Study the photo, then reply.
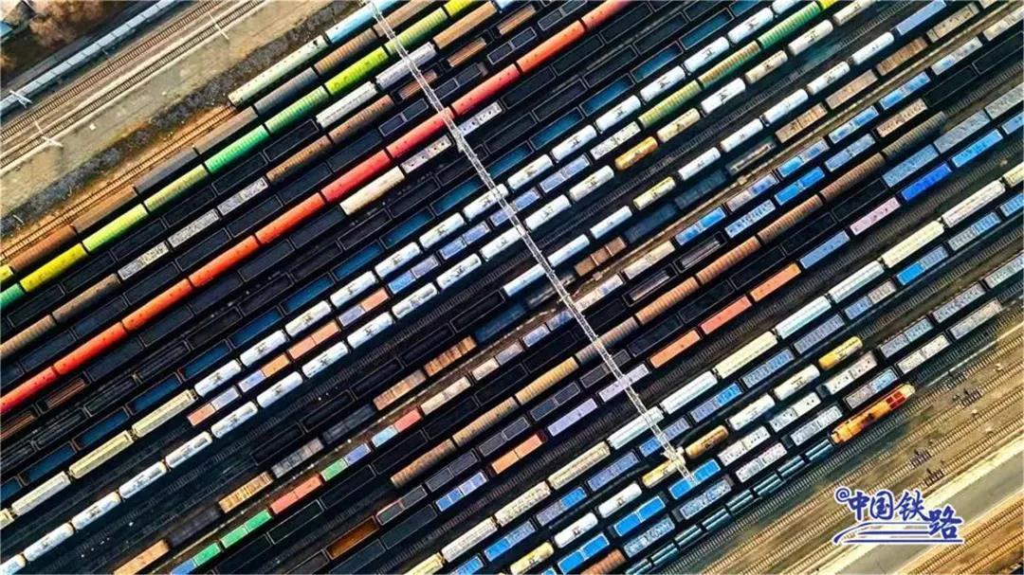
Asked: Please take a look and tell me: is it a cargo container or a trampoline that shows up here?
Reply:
cargo container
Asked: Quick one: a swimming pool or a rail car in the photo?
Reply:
rail car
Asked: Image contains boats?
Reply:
Yes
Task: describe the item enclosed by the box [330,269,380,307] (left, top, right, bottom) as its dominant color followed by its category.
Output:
white rail car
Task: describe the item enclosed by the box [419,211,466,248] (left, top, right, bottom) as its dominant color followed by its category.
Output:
white rail car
